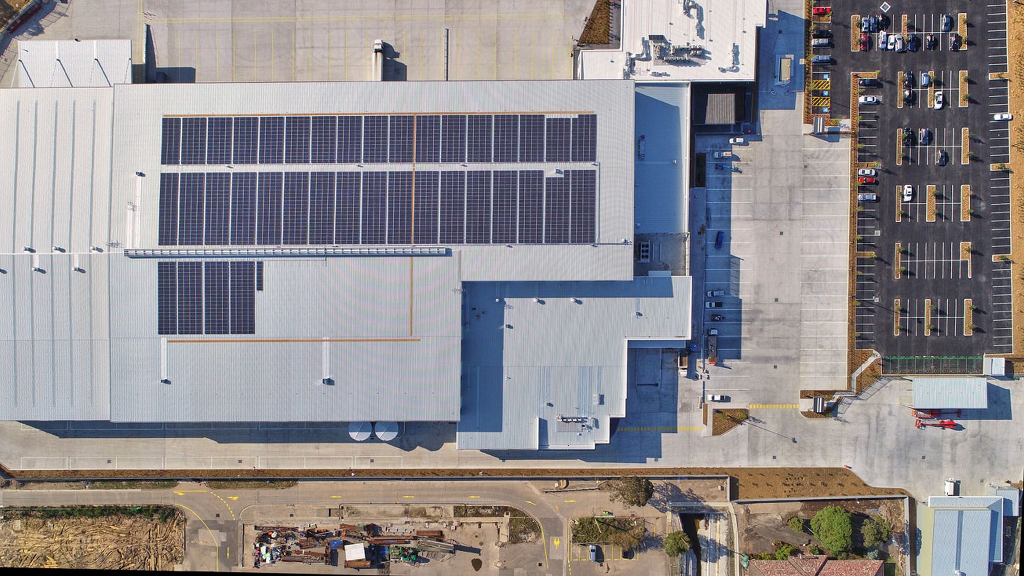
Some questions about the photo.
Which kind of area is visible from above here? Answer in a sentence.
The picture captures an industrial area.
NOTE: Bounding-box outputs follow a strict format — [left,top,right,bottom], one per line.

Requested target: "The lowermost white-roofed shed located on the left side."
[344,538,369,562]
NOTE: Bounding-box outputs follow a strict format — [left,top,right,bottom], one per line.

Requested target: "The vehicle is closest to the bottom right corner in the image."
[943,477,957,496]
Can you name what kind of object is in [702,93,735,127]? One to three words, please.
building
